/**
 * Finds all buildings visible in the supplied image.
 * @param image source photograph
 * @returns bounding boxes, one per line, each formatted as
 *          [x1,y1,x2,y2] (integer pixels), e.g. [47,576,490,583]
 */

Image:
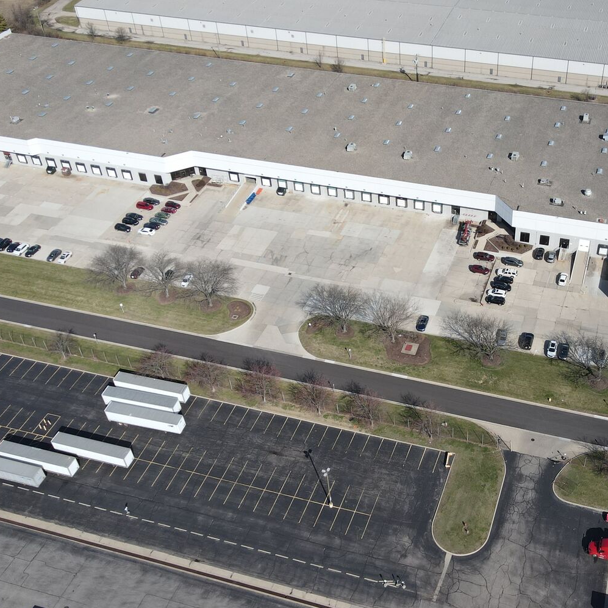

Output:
[73,0,608,85]
[0,26,608,293]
